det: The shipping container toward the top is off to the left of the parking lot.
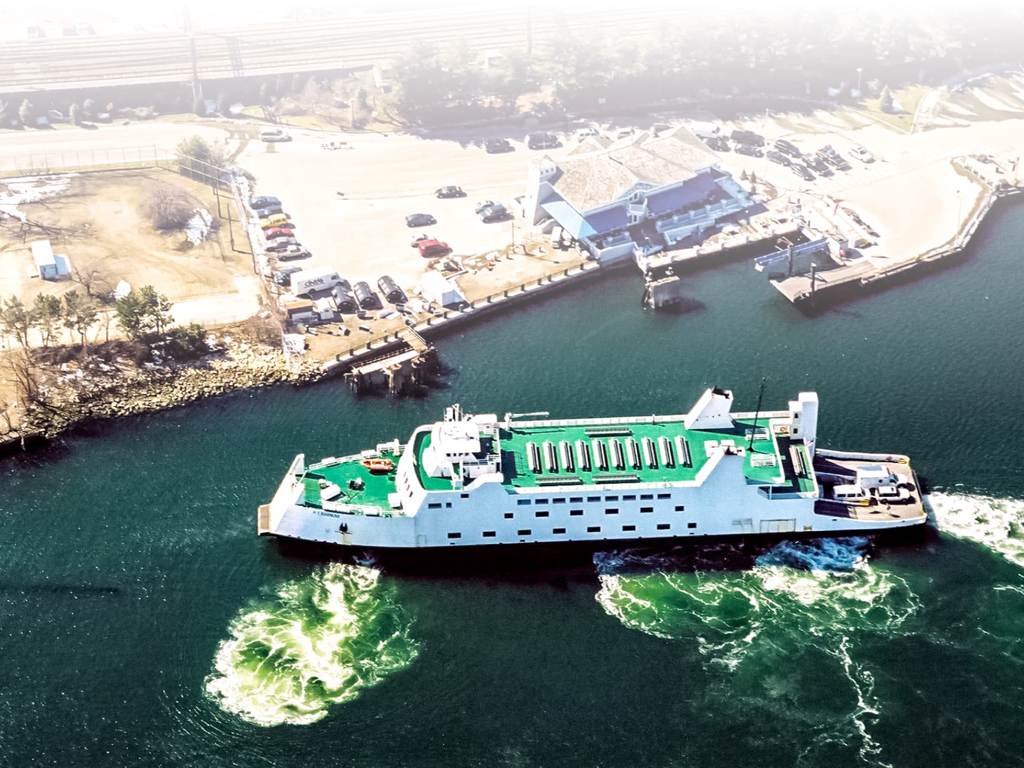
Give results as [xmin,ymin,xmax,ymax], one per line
[32,239,57,279]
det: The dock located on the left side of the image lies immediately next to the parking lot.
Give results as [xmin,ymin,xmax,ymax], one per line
[342,330,438,389]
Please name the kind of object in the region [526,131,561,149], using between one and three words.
vehicle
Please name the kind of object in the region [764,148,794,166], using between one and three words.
car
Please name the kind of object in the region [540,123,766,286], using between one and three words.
building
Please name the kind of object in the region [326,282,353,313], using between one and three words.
shed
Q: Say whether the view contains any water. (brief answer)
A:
Yes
